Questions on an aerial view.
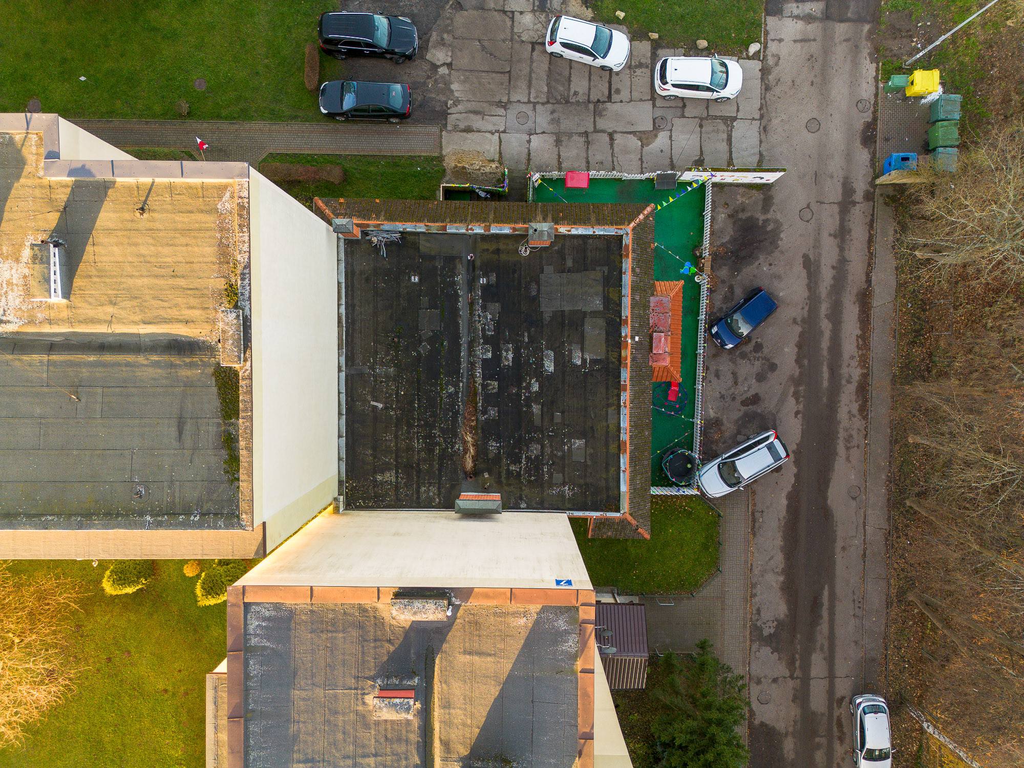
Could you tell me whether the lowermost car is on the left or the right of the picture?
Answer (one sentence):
The lowermost car appears in the right half of the scene.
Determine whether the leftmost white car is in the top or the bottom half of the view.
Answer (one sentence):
It is in the top half that the leftmost white car appears.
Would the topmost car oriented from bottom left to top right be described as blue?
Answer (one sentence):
Yes, the topmost car oriented from bottom left to top right appears blue.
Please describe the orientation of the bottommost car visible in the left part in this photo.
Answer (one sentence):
The bottommost car visible in the left part runs from left to right in the image.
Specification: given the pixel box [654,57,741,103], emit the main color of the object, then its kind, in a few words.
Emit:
white car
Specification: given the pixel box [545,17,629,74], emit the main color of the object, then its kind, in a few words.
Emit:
white car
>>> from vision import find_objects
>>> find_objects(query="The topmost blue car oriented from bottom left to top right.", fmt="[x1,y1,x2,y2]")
[708,287,784,349]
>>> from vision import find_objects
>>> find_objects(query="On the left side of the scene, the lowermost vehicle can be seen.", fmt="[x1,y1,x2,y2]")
[321,80,412,124]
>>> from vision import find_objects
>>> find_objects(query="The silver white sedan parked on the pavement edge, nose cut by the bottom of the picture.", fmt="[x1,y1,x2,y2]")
[845,692,890,768]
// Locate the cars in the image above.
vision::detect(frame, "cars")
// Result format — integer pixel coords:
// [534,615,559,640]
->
[319,13,416,66]
[708,287,784,349]
[321,80,412,124]
[845,692,890,768]
[698,430,790,498]
[545,17,629,74]
[654,57,741,103]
